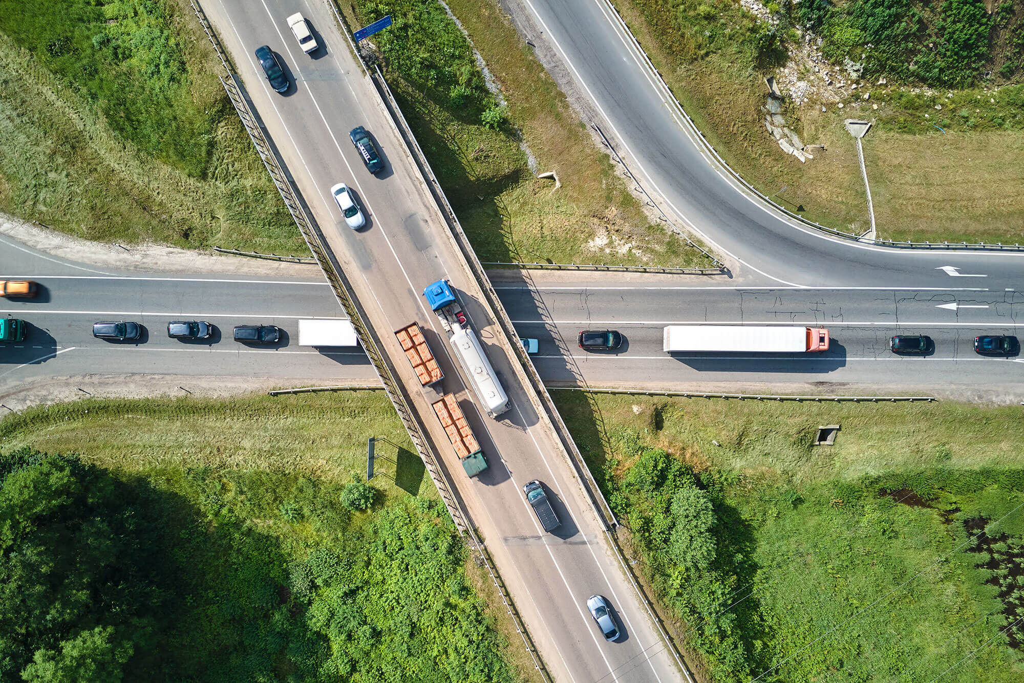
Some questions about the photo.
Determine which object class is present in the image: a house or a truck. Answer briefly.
truck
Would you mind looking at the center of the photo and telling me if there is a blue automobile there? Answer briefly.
Yes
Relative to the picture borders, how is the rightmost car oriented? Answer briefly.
from left to right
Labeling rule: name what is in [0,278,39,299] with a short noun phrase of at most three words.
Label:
car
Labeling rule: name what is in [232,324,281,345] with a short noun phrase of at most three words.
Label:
vehicle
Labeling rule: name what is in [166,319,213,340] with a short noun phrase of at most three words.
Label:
car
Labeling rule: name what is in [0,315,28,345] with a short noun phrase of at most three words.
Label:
truck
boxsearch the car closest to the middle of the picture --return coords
[520,336,538,353]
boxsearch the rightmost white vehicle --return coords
[661,325,828,355]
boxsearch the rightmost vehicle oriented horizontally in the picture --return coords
[971,334,1018,355]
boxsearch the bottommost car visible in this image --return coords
[586,592,622,643]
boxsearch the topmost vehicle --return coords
[287,12,320,57]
